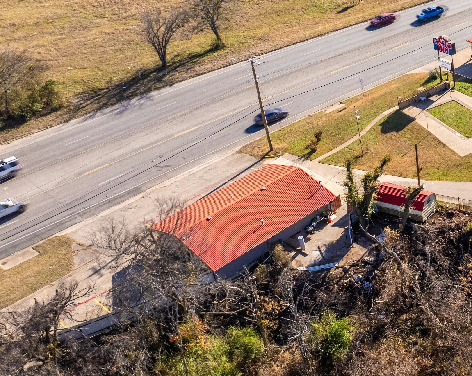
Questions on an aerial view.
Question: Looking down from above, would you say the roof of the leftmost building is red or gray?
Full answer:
From above, the roof of the leftmost building appears red.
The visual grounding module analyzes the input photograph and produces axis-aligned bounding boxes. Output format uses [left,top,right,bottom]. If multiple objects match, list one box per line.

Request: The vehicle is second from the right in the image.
[371,13,396,27]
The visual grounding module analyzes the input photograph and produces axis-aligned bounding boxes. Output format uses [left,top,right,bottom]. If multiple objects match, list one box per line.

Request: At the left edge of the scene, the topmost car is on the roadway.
[0,154,23,177]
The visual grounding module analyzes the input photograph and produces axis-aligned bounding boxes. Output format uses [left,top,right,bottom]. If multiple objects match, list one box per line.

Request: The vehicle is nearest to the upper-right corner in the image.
[416,5,448,22]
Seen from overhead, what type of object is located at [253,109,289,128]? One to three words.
car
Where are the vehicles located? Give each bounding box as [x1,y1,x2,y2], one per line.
[416,5,448,22]
[0,199,29,222]
[0,154,23,177]
[371,13,396,27]
[253,109,289,128]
